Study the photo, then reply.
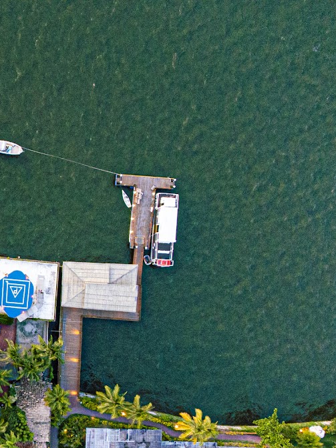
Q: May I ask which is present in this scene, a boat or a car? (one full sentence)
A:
Visible in the photo is a boat.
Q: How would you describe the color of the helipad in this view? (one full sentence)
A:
The helipad is white.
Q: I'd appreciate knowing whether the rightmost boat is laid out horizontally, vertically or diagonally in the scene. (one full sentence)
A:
From this overhead view, the rightmost boat appears to run vertically.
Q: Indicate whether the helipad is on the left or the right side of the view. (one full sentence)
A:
The helipad sits on the left side.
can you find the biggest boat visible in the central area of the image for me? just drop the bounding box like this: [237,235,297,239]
[152,192,183,267]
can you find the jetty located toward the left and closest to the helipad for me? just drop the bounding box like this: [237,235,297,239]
[59,259,143,397]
